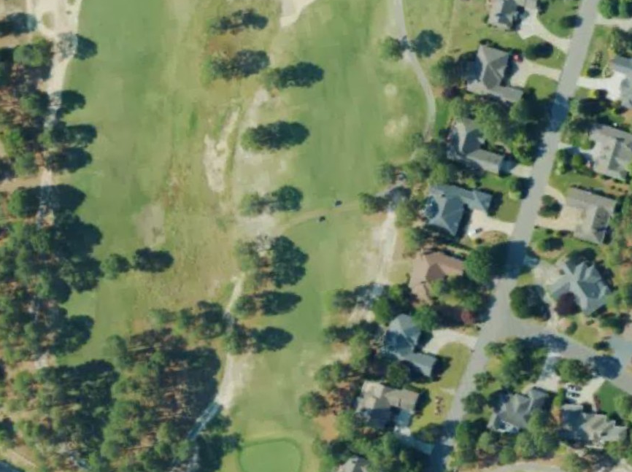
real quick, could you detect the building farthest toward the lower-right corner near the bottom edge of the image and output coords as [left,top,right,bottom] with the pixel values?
[556,400,631,451]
